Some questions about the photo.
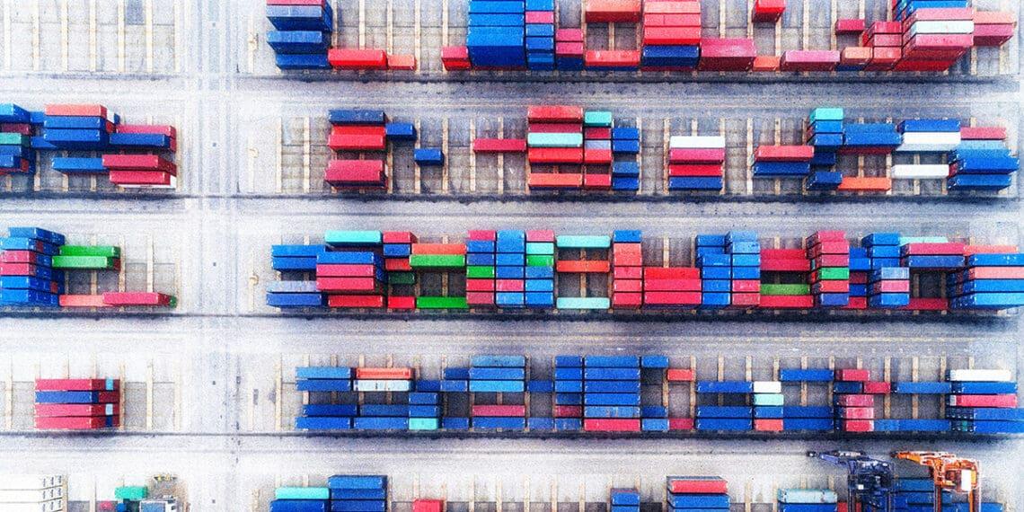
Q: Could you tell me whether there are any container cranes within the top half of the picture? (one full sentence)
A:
No, there is no container crane within the top half of the picture.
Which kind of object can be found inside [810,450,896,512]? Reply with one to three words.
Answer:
container crane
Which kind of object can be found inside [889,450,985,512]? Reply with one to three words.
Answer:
container crane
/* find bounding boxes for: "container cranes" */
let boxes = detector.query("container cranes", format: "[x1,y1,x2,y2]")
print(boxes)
[810,450,896,512]
[889,450,985,512]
